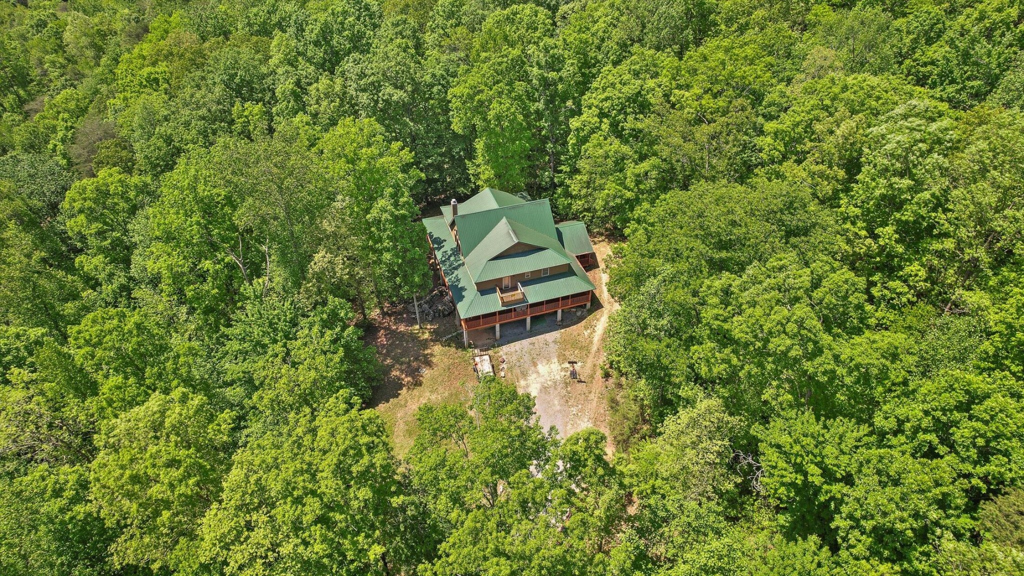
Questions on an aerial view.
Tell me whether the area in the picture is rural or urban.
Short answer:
rural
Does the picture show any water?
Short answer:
No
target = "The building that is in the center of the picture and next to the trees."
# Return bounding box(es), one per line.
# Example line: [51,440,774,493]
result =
[424,185,597,331]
